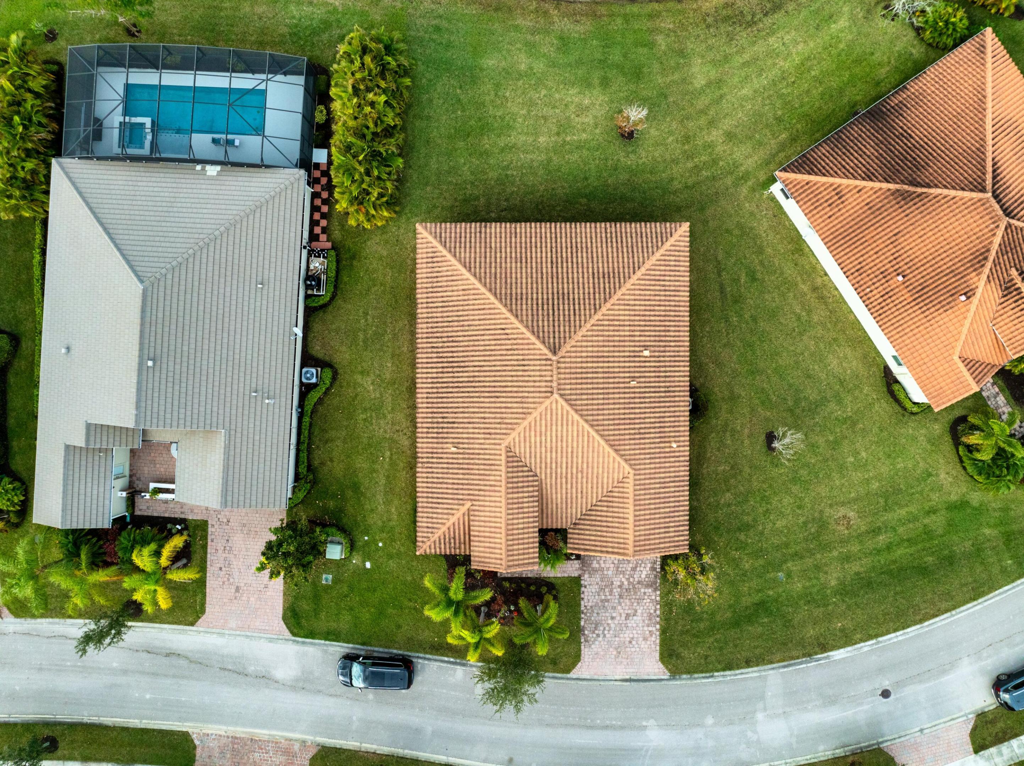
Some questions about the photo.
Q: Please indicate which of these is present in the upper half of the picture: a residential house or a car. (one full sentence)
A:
The feature located in the upper half of the picture is a residential house.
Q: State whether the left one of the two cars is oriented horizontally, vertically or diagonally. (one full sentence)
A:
What the image shows is the left one of the two cars lying horizontally.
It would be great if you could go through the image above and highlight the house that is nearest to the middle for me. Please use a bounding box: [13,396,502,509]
[414,220,691,574]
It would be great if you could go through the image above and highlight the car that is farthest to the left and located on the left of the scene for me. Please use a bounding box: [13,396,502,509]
[336,651,415,693]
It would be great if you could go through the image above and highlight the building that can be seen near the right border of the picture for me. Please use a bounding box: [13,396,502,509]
[762,24,1024,412]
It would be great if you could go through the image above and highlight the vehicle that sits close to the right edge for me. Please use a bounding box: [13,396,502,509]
[991,668,1024,714]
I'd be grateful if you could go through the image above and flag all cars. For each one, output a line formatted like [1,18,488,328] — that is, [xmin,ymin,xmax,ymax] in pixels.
[991,668,1024,714]
[336,651,415,693]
